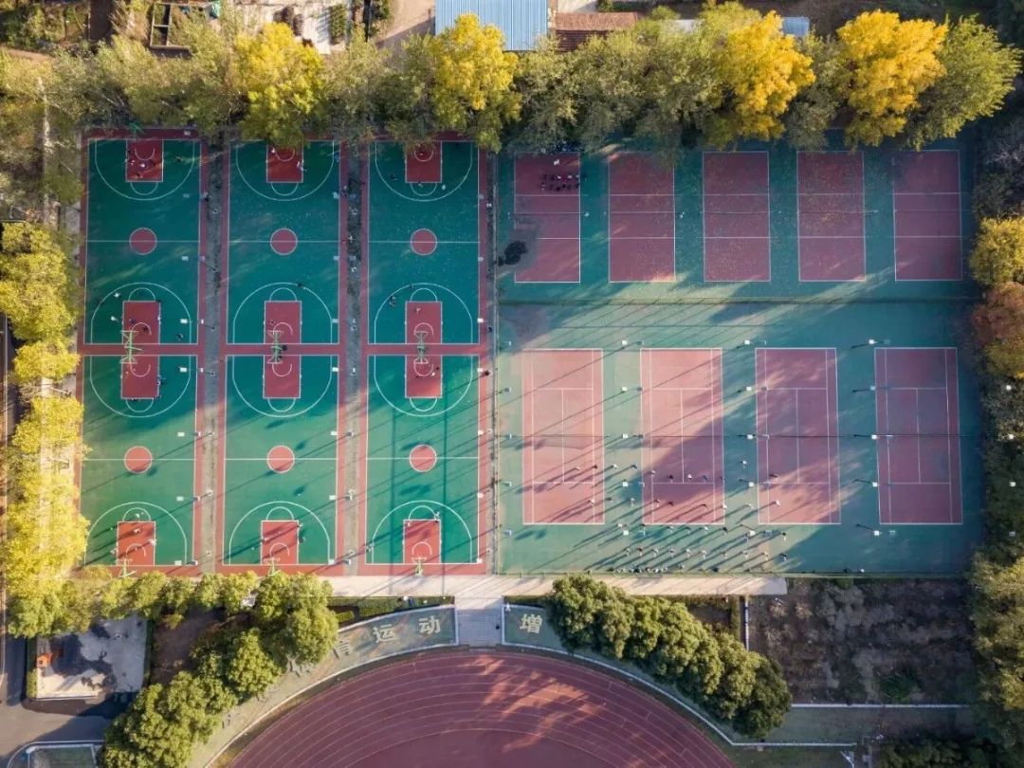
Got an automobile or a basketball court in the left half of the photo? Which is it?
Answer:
basketball court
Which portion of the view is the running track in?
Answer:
bottom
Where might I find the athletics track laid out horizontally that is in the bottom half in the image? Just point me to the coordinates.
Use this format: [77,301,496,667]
[231,654,732,768]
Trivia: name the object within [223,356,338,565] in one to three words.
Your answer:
basketball court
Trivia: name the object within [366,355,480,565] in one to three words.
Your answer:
basketball court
